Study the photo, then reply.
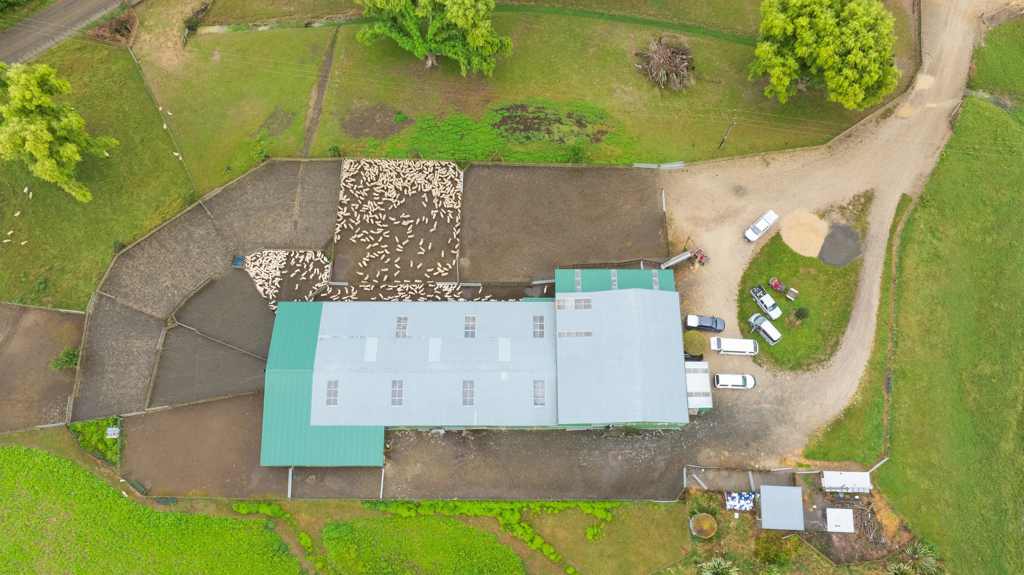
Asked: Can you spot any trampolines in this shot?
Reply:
No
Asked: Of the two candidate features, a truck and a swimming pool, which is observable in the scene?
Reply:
truck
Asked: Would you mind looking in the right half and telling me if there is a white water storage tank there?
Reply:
No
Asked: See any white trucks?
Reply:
Yes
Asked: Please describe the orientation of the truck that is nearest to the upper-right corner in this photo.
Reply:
on a diagonal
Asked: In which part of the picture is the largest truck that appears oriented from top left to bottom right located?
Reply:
right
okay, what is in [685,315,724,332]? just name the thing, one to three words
vehicle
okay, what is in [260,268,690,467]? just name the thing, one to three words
shed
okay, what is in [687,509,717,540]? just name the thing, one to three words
water tank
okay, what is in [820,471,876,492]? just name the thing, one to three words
building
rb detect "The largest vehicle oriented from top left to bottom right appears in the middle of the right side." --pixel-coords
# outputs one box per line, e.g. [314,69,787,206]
[748,284,782,321]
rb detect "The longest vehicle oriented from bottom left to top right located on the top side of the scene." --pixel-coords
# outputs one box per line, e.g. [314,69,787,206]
[744,210,779,242]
